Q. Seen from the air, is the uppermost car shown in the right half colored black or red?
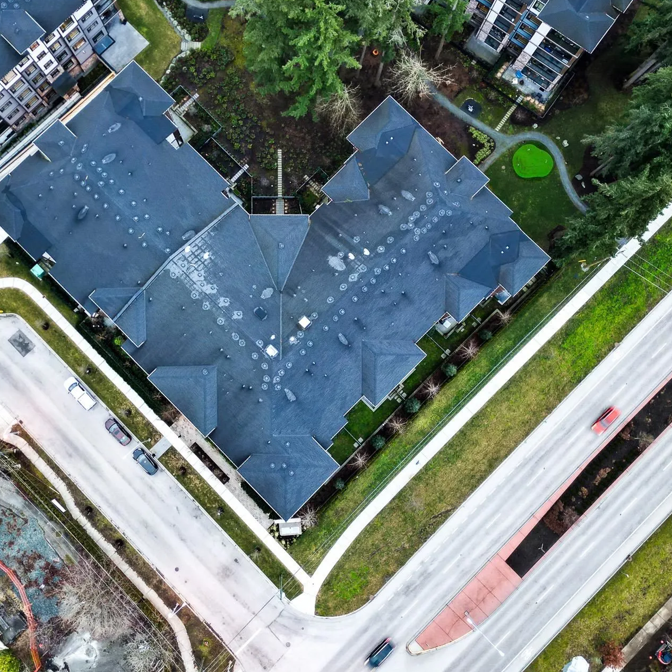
red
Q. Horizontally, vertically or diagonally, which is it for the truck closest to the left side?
diagonally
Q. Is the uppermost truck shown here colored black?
No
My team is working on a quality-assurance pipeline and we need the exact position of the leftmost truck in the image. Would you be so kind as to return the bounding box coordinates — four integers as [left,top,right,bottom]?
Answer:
[59,374,100,412]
